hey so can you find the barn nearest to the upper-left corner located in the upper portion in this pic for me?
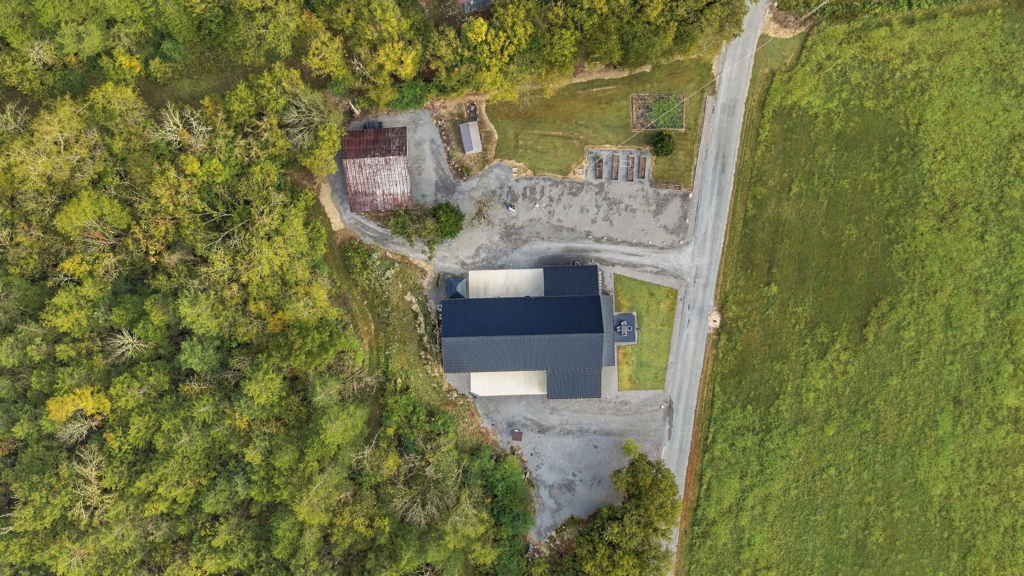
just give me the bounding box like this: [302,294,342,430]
[342,126,413,213]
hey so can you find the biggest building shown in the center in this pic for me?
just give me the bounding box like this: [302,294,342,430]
[442,264,616,400]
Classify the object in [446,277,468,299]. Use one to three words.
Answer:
gazebo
